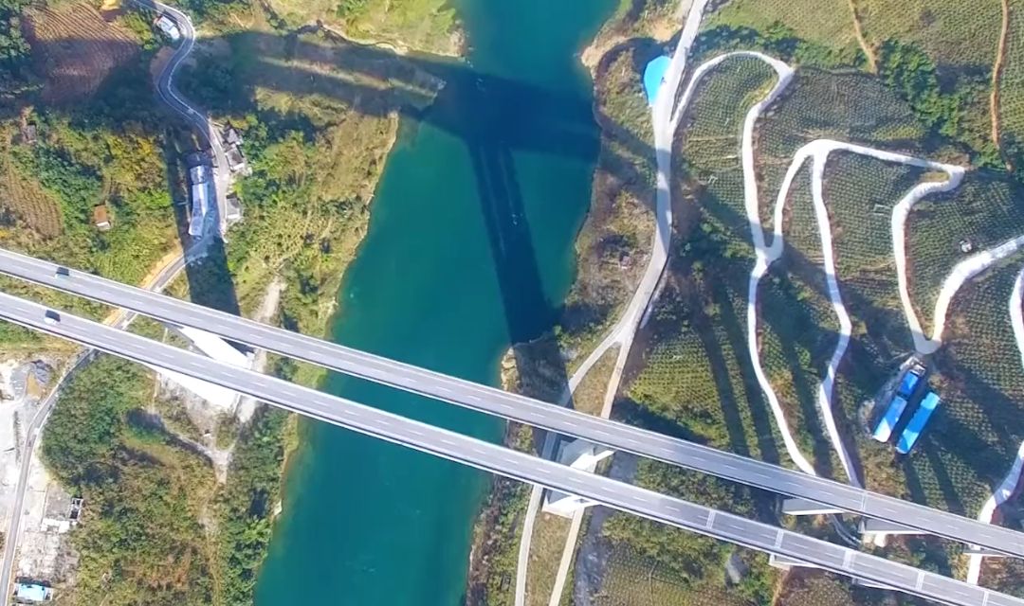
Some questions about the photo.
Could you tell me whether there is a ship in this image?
No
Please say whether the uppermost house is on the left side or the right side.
left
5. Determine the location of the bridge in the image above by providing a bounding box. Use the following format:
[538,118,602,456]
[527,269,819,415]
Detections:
[0,250,1024,561]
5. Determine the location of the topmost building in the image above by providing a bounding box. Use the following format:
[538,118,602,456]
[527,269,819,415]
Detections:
[157,21,186,41]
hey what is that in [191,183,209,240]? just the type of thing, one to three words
shed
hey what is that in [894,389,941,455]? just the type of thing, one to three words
building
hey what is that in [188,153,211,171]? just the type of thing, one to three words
house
